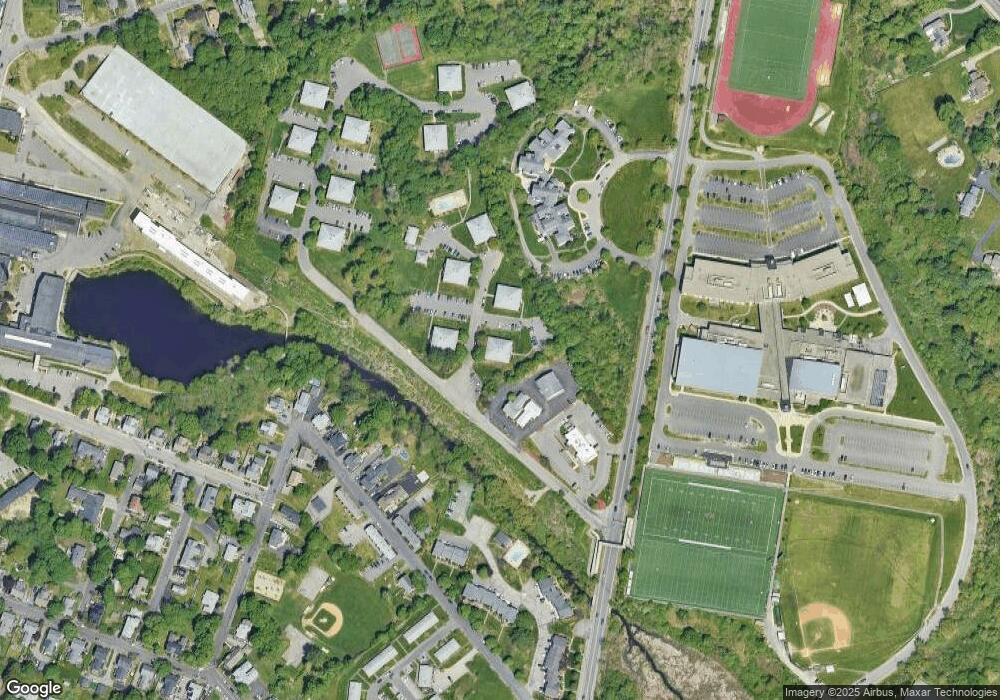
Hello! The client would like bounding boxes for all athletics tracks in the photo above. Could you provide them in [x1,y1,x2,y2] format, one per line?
[714,0,844,136]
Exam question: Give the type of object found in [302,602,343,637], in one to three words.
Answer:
baseball field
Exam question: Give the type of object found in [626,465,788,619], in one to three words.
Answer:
sports field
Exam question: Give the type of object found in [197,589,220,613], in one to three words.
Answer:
house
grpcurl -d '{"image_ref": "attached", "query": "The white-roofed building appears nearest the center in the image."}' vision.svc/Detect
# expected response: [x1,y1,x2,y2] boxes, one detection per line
[484,335,513,363]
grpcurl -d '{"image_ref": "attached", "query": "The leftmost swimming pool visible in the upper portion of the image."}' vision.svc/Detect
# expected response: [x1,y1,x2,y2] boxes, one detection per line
[430,192,467,215]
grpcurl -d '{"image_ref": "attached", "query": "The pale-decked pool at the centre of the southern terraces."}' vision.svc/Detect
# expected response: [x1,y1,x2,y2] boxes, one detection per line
[506,543,528,567]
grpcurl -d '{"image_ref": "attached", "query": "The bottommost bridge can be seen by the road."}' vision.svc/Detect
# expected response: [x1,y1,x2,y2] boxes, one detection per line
[588,508,635,576]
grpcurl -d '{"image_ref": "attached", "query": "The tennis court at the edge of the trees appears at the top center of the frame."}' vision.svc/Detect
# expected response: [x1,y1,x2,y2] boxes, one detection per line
[377,24,423,69]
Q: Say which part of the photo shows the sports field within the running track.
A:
top right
